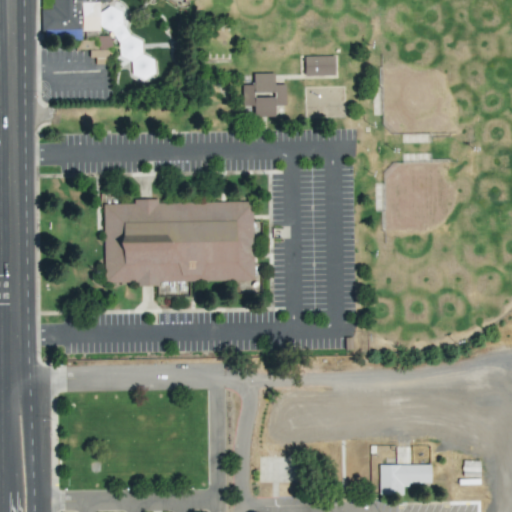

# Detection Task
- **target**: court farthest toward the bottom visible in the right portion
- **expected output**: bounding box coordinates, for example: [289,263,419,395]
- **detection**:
[305,86,346,118]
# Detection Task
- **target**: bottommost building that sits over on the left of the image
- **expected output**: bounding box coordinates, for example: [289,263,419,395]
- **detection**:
[104,198,256,286]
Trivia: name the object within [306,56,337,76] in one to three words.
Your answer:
building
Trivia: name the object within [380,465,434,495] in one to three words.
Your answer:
building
